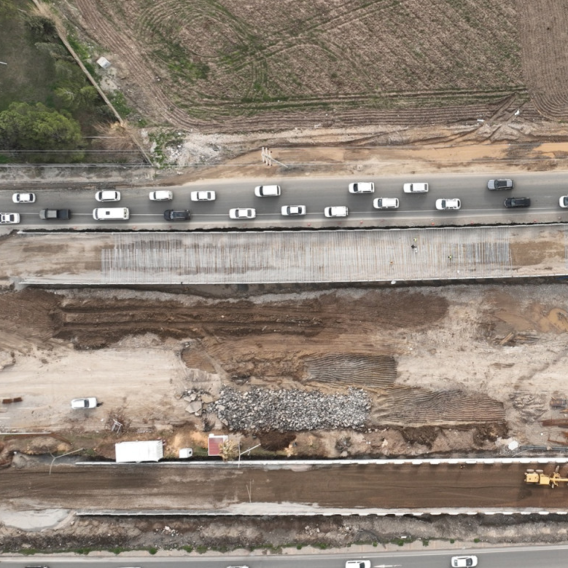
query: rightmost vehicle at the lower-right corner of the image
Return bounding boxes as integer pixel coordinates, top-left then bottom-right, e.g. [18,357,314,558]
[525,467,568,489]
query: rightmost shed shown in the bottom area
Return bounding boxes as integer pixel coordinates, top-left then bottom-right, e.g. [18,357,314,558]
[208,434,231,455]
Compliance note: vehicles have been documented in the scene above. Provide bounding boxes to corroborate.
[93,206,130,220]
[97,190,123,201]
[191,189,217,201]
[451,554,478,568]
[164,207,191,220]
[281,205,306,216]
[255,184,281,197]
[345,559,371,568]
[349,181,374,194]
[504,196,530,208]
[525,467,568,489]
[324,206,348,217]
[559,196,568,207]
[0,212,22,223]
[69,397,105,410]
[374,198,400,209]
[403,181,428,192]
[436,197,461,209]
[150,189,174,201]
[230,207,257,220]
[487,178,513,190]
[41,207,73,220]
[14,191,38,203]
